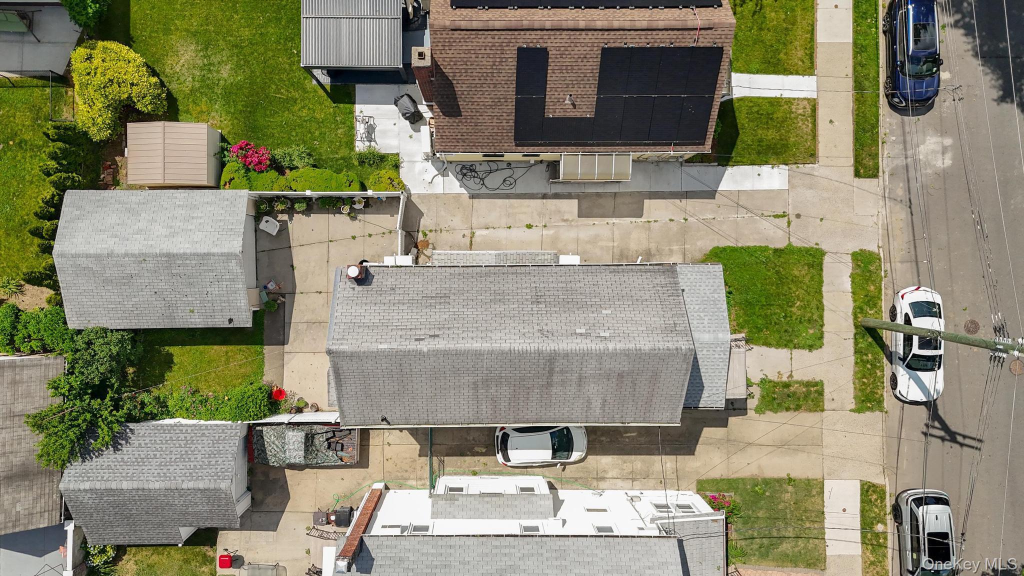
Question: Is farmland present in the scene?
No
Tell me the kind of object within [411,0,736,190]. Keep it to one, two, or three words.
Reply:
house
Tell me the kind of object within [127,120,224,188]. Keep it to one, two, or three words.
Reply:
shed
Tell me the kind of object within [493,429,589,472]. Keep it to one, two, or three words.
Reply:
car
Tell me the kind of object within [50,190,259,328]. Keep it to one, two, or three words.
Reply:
building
